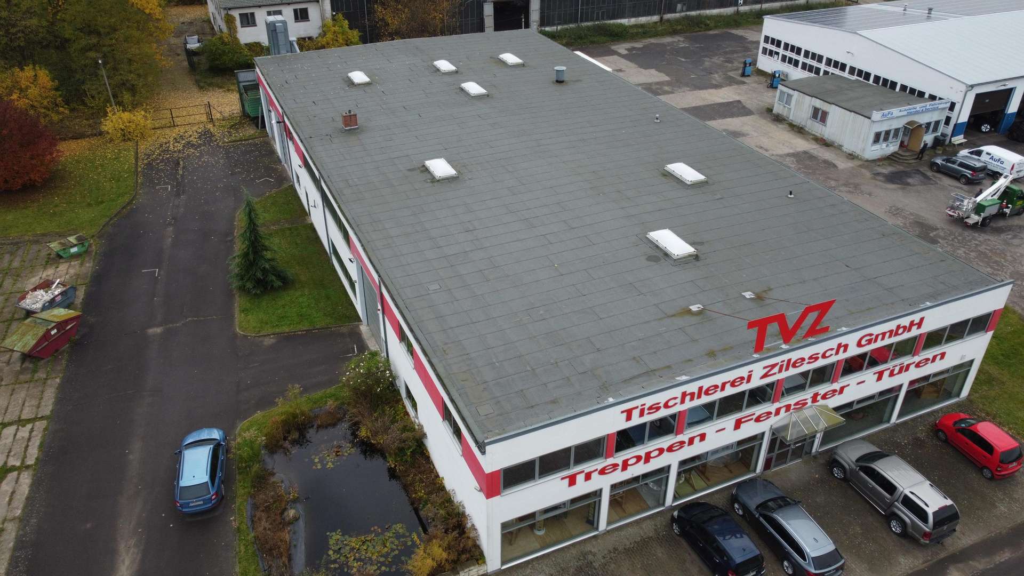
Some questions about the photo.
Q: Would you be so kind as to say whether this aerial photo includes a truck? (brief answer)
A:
Yes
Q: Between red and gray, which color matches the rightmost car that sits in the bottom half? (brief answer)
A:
red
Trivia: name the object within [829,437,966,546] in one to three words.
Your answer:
truck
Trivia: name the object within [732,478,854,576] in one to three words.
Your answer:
car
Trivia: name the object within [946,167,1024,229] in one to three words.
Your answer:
truck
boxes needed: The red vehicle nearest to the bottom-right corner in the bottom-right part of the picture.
[941,417,1024,485]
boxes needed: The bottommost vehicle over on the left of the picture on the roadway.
[169,427,227,521]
